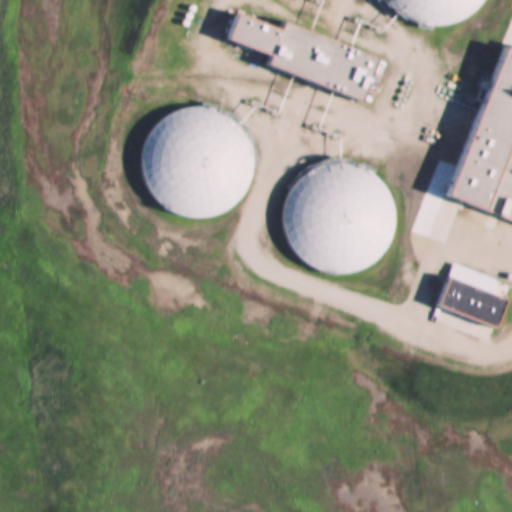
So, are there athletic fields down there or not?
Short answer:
No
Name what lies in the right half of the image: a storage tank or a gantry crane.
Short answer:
storage tank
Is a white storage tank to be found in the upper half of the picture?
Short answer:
Yes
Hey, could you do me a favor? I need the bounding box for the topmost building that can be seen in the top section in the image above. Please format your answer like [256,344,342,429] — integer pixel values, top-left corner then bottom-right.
[227,14,378,100]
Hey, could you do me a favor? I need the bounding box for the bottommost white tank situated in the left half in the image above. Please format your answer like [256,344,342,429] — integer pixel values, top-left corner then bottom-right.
[140,100,256,220]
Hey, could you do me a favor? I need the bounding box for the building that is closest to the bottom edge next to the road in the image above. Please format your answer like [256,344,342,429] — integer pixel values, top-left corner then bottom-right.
[436,263,509,327]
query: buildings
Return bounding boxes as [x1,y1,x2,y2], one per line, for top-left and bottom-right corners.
[227,14,378,100]
[444,50,512,224]
[436,263,509,327]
